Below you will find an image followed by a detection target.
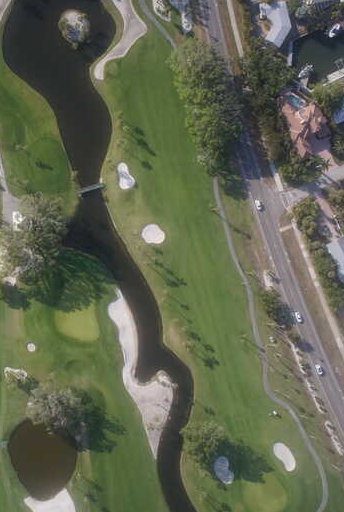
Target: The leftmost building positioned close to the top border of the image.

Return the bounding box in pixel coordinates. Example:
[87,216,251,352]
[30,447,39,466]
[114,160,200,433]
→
[264,0,292,48]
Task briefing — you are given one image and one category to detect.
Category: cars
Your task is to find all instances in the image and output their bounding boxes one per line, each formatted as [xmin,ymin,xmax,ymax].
[294,312,301,323]
[315,364,322,375]
[255,200,261,211]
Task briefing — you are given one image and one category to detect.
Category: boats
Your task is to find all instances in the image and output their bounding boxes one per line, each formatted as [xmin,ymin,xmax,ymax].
[330,24,341,36]
[298,68,312,79]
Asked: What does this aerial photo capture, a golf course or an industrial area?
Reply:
golf course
